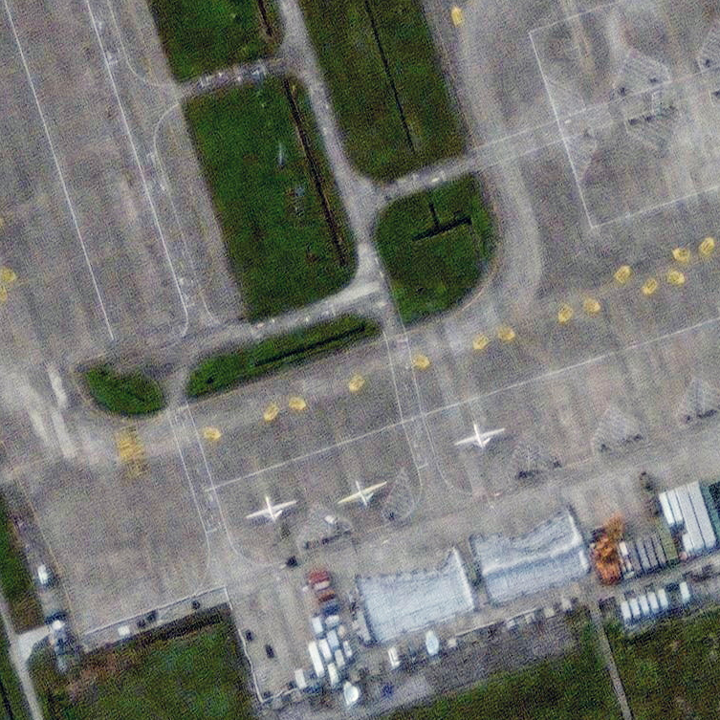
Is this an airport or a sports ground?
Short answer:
airport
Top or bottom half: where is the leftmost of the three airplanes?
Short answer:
bottom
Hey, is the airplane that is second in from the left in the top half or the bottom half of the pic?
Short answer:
bottom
